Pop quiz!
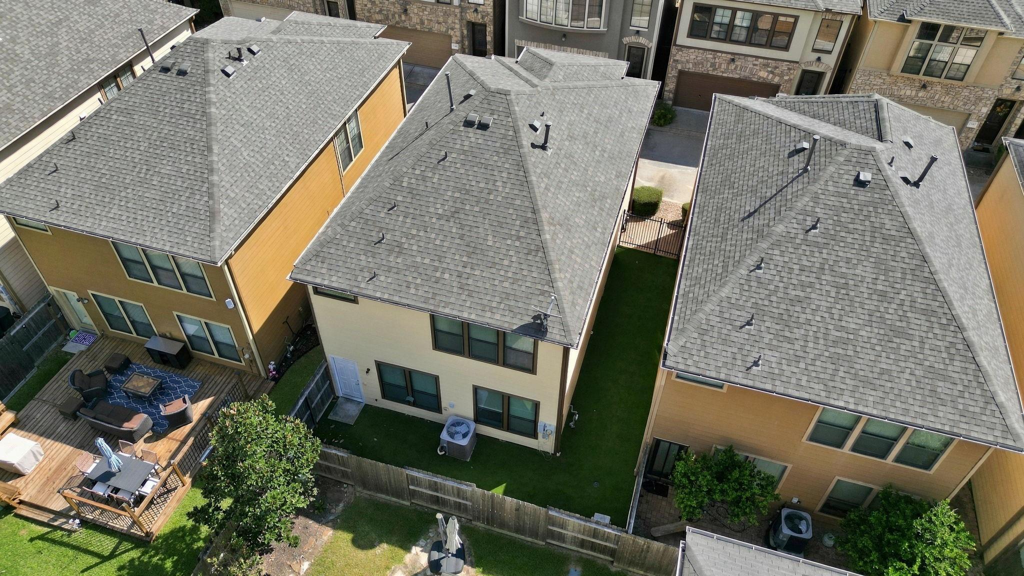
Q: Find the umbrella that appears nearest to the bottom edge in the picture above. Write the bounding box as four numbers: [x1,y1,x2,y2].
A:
[422,515,466,576]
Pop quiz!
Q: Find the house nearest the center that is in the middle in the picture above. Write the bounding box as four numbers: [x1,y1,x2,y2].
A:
[287,46,658,463]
